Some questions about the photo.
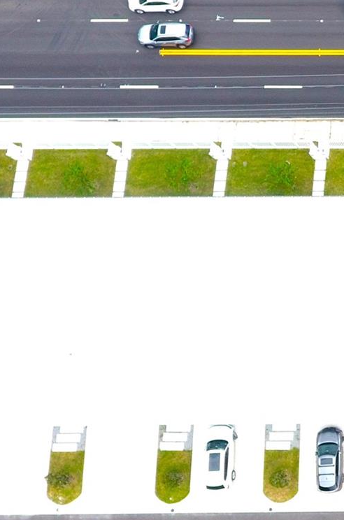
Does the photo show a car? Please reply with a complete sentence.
Yes, a car is visible in the scene.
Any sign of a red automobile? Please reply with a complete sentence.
No, I can see no red automobile in this picture.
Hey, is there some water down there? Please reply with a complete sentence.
No, no water is visible.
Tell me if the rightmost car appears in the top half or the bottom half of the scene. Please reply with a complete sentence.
You can find the rightmost car in the bottom half.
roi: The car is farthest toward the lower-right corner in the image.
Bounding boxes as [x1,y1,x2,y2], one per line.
[312,429,344,494]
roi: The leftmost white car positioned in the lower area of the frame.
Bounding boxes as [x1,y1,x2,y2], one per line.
[202,427,236,493]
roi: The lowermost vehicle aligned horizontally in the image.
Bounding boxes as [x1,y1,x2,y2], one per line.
[135,19,195,48]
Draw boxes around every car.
[135,19,195,48]
[126,0,185,15]
[202,427,236,493]
[312,429,344,494]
